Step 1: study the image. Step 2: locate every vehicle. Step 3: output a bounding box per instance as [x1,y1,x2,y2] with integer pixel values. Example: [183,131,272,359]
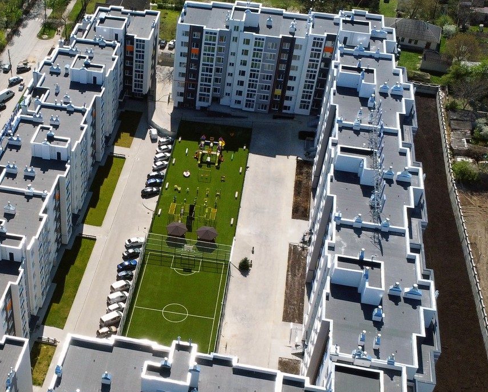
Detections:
[116,258,137,270]
[123,237,143,249]
[155,144,171,153]
[144,177,165,186]
[152,151,171,162]
[147,170,166,179]
[108,277,130,292]
[114,269,134,279]
[122,249,140,260]
[157,137,173,145]
[106,299,125,309]
[8,76,23,86]
[150,128,157,140]
[140,185,161,197]
[15,65,32,74]
[3,66,11,73]
[96,306,125,325]
[0,101,8,109]
[0,86,16,101]
[107,289,128,303]
[151,160,169,170]
[95,323,116,337]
